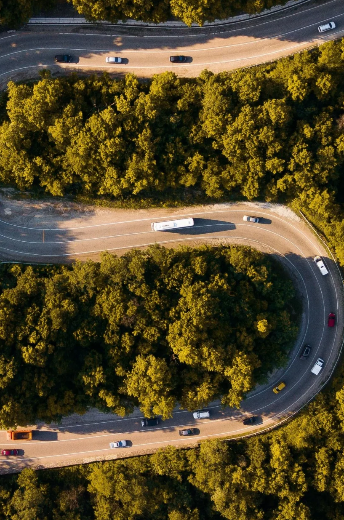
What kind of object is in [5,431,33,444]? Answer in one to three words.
vehicle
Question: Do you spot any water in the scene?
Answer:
No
